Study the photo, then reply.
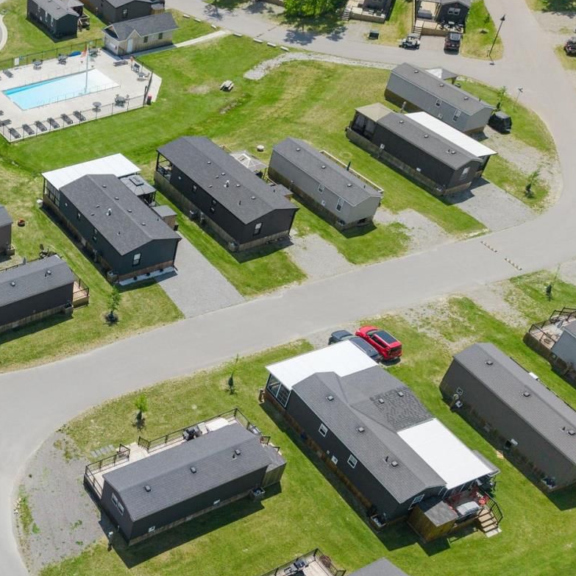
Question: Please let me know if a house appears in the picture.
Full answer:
Yes, there's a house here.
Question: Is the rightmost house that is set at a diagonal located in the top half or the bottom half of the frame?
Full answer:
It is in the bottom half that the rightmost house that is set at a diagonal appears.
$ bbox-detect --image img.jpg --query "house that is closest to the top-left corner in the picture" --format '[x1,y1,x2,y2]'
[29,0,82,40]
